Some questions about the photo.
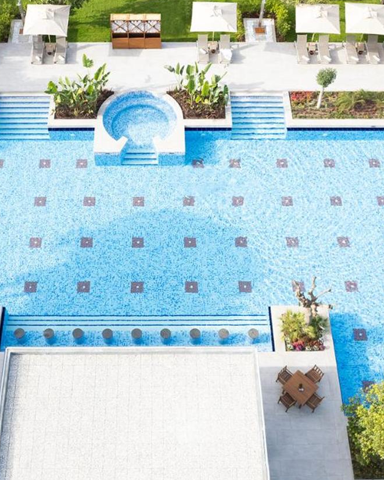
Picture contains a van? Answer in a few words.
No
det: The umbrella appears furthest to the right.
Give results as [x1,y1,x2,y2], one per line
[342,5,384,47]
